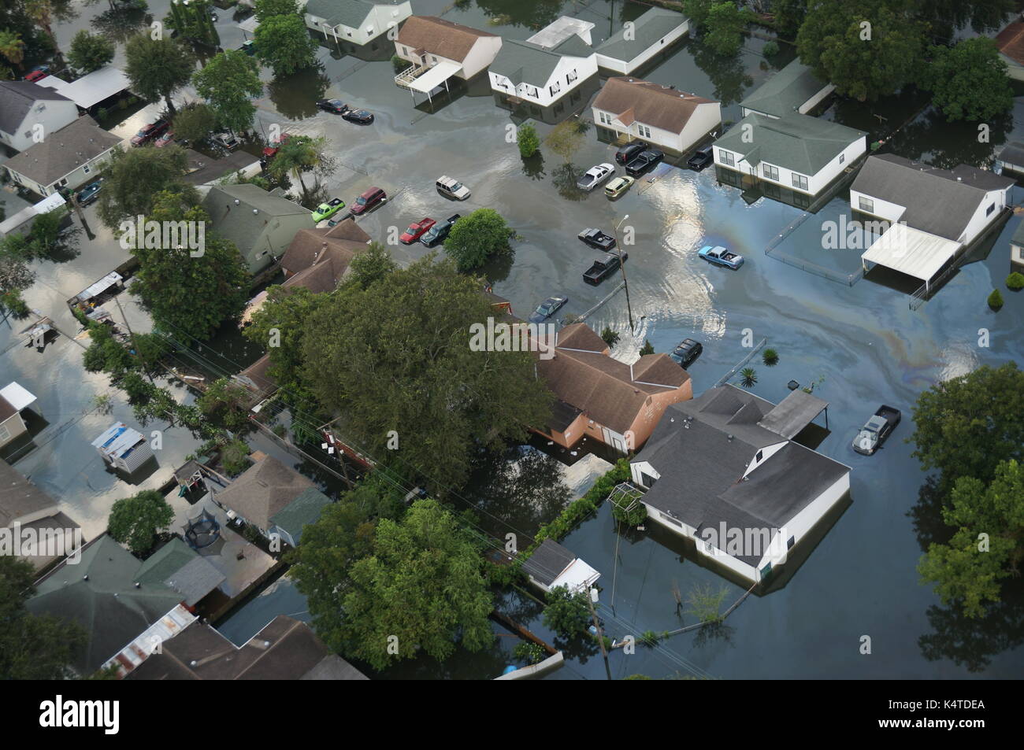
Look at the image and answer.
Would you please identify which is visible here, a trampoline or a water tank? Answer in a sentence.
Looking from above, you can make out a trampoline.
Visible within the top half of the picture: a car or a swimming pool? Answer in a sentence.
There is a car within the top half of the picture.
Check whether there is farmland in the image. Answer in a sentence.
No, there's no farmland in this view.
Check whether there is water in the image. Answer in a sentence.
Yes, water can be seen from above here.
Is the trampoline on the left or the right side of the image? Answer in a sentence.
The trampoline is on the left side of the image.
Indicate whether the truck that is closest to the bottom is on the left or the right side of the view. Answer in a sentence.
The truck that is closest to the bottom is on the right side of the image.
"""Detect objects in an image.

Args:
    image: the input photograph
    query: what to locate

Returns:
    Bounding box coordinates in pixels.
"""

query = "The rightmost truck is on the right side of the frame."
[846,403,910,459]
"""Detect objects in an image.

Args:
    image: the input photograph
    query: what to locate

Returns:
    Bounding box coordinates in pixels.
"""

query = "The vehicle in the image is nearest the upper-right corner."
[678,143,716,174]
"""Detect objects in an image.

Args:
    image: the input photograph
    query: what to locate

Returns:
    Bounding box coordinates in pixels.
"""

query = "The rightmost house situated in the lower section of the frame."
[622,374,855,580]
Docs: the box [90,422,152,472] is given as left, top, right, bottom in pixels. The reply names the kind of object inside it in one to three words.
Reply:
shed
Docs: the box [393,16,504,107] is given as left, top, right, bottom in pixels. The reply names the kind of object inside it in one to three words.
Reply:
house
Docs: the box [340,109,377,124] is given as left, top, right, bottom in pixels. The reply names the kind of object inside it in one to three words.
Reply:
car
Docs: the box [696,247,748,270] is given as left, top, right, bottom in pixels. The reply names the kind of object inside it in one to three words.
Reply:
truck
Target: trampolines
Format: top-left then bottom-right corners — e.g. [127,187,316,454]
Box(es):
[178,509,223,557]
